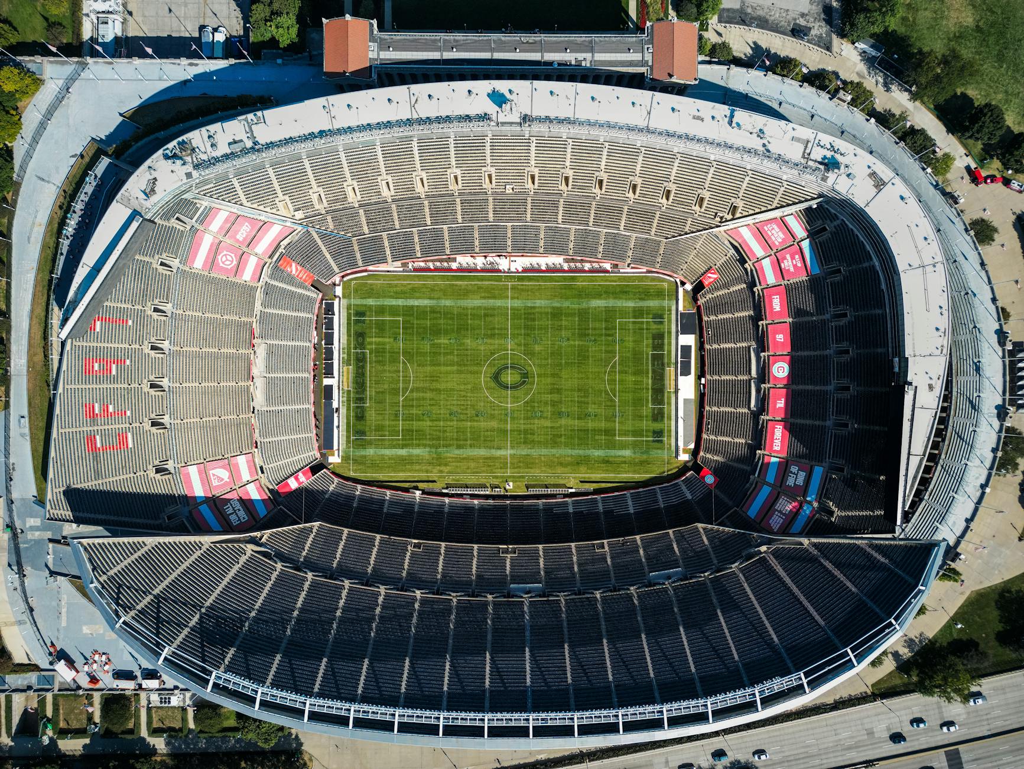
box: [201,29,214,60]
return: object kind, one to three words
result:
vehicle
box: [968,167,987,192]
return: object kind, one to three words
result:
vehicle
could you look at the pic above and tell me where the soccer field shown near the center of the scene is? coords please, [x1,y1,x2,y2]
[330,272,692,499]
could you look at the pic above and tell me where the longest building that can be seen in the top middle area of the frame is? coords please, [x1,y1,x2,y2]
[322,9,700,98]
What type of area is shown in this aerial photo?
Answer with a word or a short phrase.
sports ground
